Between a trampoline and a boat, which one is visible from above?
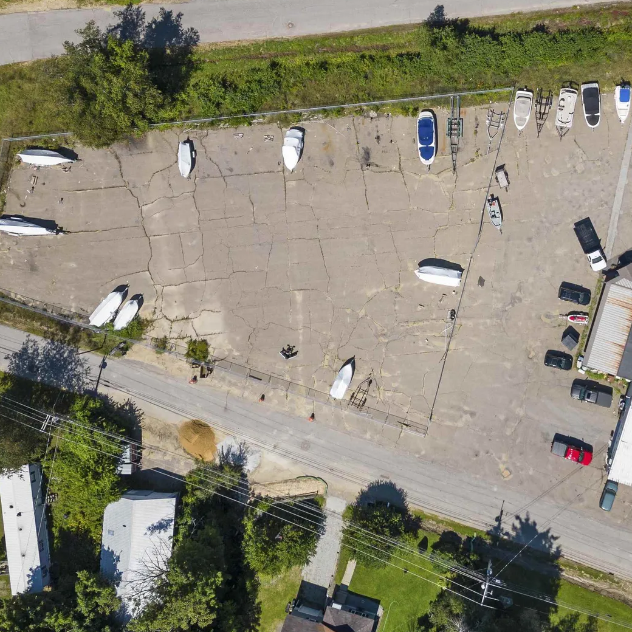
boat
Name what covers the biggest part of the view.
paved ground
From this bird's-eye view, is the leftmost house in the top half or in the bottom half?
bottom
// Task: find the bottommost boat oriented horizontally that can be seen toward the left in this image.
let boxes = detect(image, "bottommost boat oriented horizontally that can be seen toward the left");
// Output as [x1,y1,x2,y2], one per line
[0,217,59,238]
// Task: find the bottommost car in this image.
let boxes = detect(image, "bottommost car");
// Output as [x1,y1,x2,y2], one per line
[600,477,618,510]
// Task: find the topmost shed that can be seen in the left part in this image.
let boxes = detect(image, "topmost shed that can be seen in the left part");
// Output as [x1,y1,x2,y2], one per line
[117,440,146,475]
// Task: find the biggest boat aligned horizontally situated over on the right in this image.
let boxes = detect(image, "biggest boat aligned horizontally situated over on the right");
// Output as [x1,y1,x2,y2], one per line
[416,269,462,290]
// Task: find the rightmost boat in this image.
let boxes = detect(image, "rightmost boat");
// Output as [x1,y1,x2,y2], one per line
[616,81,631,123]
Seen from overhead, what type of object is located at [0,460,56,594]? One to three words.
house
